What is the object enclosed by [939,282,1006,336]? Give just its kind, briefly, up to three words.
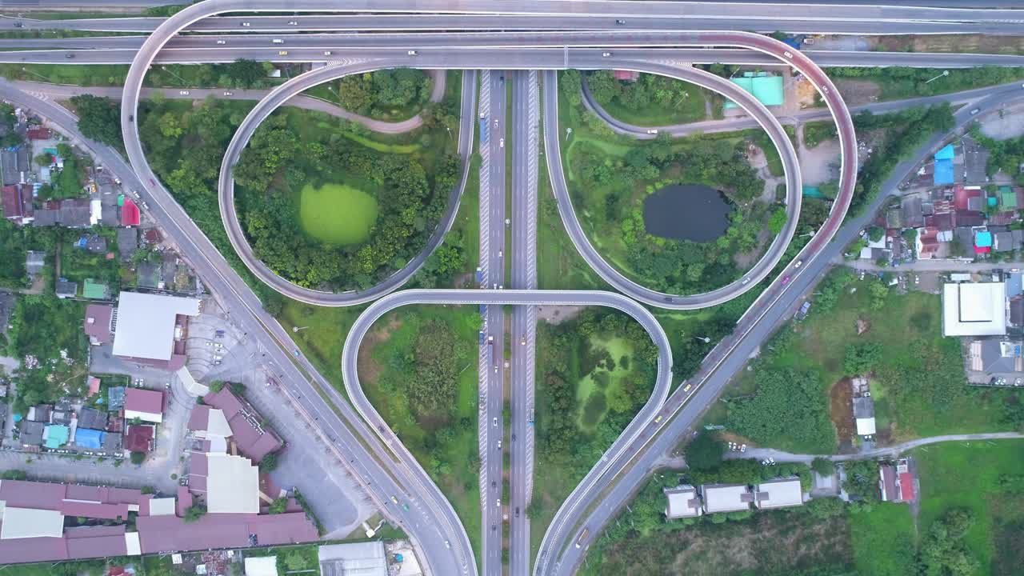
building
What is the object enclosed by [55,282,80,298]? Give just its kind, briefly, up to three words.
house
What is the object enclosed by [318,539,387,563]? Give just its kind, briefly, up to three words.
building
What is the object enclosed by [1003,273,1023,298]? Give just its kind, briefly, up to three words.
house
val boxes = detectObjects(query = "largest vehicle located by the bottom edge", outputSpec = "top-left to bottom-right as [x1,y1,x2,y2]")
[575,530,590,549]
